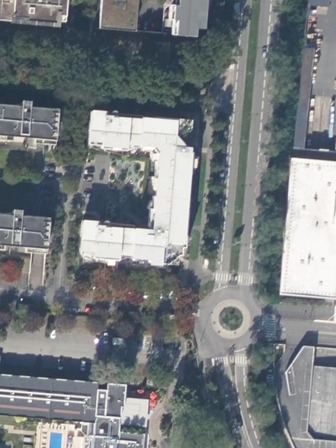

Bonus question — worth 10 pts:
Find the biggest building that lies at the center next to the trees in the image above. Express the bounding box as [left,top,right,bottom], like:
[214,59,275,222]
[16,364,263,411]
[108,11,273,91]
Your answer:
[80,110,198,270]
